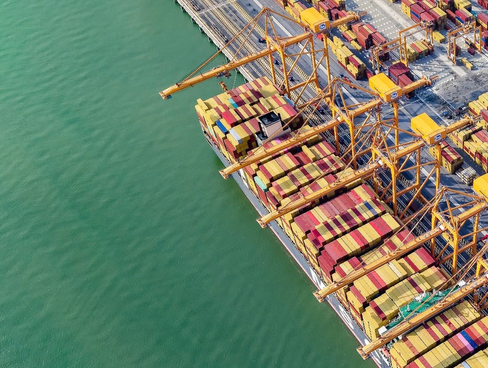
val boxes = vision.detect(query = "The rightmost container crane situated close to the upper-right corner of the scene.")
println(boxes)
[447,19,484,65]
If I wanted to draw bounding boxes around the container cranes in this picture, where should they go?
[314,171,488,303]
[358,242,488,362]
[221,73,433,181]
[366,30,404,74]
[447,19,484,65]
[259,114,477,231]
[394,14,438,63]
[161,4,361,107]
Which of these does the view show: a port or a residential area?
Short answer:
port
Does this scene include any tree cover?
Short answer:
No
